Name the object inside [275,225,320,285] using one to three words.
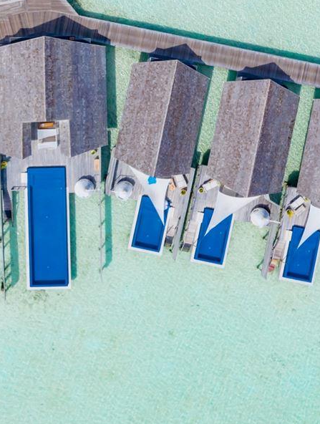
swimming pool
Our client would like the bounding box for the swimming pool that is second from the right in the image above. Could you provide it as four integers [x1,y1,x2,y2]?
[189,208,234,268]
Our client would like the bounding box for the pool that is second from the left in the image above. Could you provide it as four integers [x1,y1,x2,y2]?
[130,195,178,255]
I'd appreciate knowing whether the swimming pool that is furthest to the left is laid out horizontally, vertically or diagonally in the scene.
vertically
